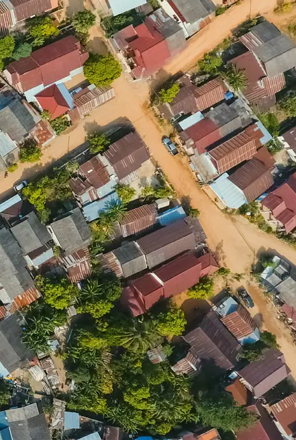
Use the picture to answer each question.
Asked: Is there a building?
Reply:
Yes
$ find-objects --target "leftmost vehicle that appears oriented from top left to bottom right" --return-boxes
[163,133,179,154]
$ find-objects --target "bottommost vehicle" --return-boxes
[239,287,255,309]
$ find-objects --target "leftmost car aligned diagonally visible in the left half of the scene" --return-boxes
[12,179,30,194]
